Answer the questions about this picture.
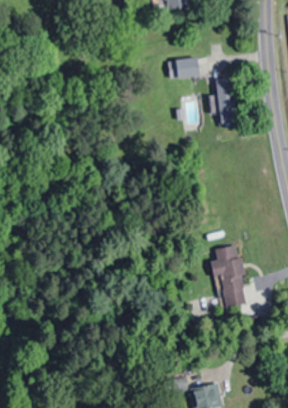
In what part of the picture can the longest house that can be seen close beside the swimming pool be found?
top right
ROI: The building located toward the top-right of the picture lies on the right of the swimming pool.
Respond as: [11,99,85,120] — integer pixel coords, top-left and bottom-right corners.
[210,74,236,126]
